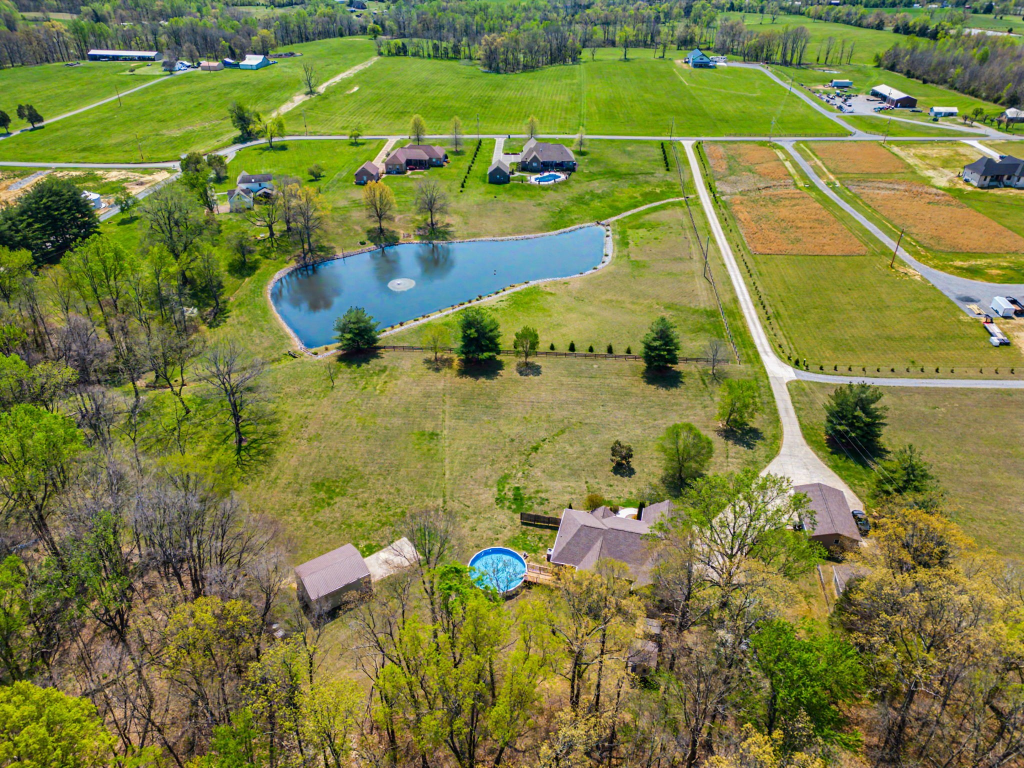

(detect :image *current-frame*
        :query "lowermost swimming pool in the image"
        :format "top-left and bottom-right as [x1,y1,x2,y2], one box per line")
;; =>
[468,549,528,601]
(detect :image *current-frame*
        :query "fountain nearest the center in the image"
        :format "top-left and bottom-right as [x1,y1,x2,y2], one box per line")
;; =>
[387,278,416,291]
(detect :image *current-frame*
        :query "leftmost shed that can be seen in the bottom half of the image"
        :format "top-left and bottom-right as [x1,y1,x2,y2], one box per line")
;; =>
[296,544,372,615]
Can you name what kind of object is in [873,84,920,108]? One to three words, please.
barn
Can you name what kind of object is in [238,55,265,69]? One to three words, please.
building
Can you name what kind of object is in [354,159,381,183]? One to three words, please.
building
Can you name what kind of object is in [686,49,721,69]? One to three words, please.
house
